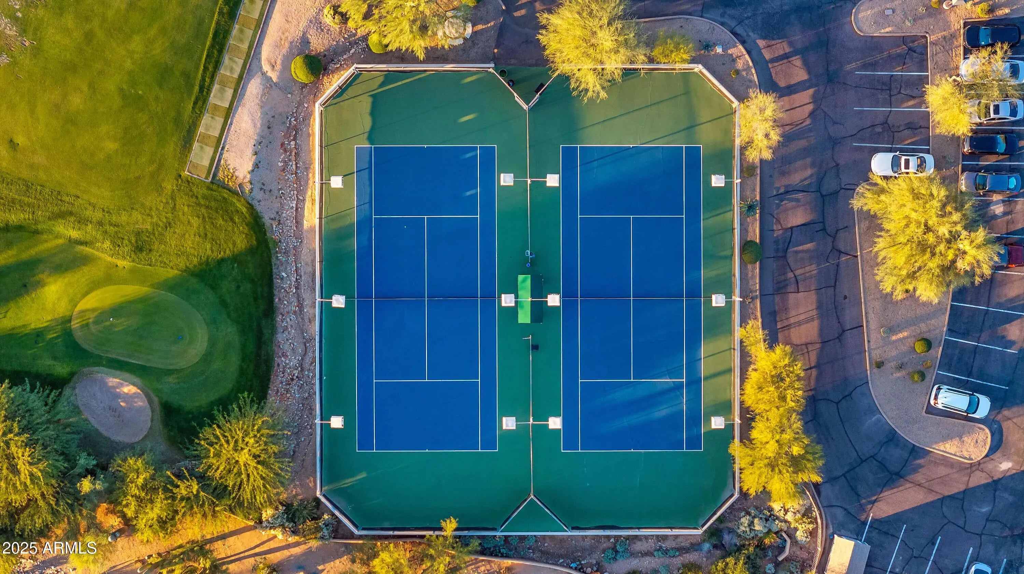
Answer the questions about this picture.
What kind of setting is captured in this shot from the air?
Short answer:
sports ground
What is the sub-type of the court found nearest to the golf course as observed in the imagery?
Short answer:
tennis court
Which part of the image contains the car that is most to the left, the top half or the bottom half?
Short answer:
top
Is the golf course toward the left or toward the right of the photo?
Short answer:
left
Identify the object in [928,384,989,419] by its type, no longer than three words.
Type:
car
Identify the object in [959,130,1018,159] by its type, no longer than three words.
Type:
car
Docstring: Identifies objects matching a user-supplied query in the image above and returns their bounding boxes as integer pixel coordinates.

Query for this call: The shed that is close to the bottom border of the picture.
[821,534,871,574]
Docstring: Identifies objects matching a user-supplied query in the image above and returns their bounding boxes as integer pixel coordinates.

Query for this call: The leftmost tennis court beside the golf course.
[319,66,529,529]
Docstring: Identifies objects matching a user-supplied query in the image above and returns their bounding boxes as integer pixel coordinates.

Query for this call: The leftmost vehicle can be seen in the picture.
[868,150,933,179]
